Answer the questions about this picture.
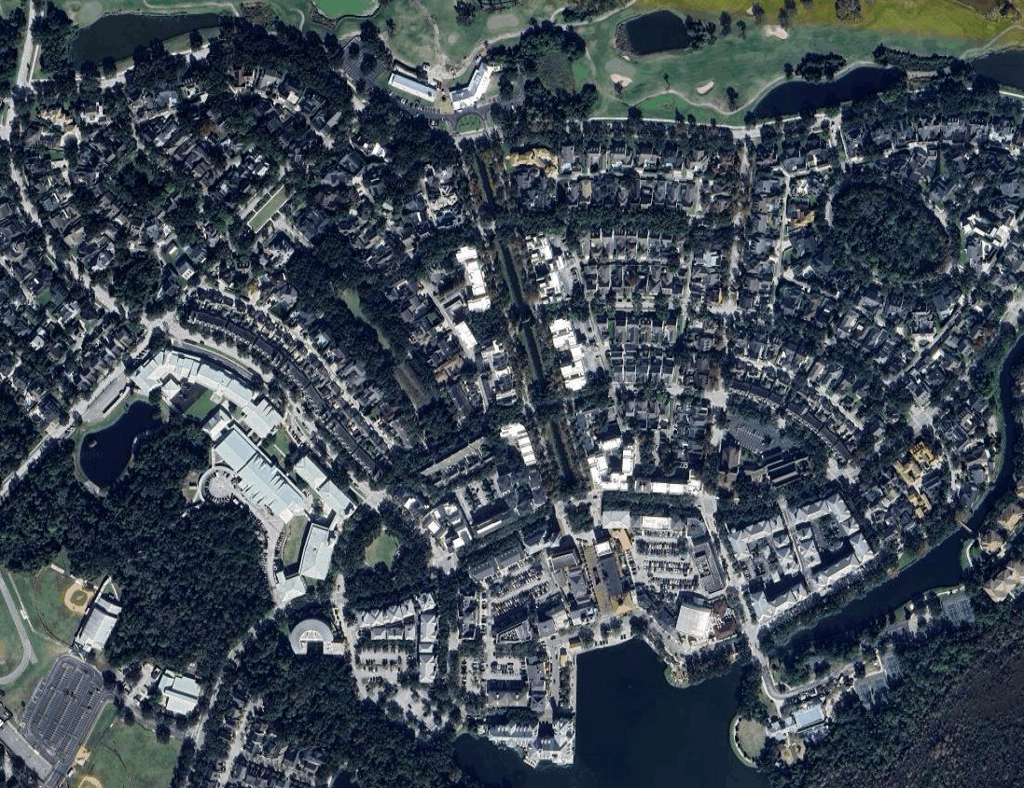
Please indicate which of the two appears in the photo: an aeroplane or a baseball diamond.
baseball diamond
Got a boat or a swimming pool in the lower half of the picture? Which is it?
swimming pool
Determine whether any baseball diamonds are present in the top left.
No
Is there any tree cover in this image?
Yes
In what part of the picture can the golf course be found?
top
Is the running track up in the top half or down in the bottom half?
bottom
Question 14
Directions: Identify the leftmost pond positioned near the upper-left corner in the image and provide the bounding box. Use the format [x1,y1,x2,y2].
[71,15,218,68]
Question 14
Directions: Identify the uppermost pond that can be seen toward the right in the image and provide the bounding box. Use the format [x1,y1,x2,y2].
[629,12,687,52]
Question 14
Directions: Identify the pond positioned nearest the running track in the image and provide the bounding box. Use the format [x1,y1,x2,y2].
[82,403,160,485]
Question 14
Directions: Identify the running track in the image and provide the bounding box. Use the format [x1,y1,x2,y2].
[0,577,37,680]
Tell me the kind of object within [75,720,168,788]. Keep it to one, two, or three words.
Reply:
baseball field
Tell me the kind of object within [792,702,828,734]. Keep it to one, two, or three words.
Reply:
swimming pool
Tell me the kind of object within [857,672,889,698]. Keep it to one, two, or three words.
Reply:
tennis court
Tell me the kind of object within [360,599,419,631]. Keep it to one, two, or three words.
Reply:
building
